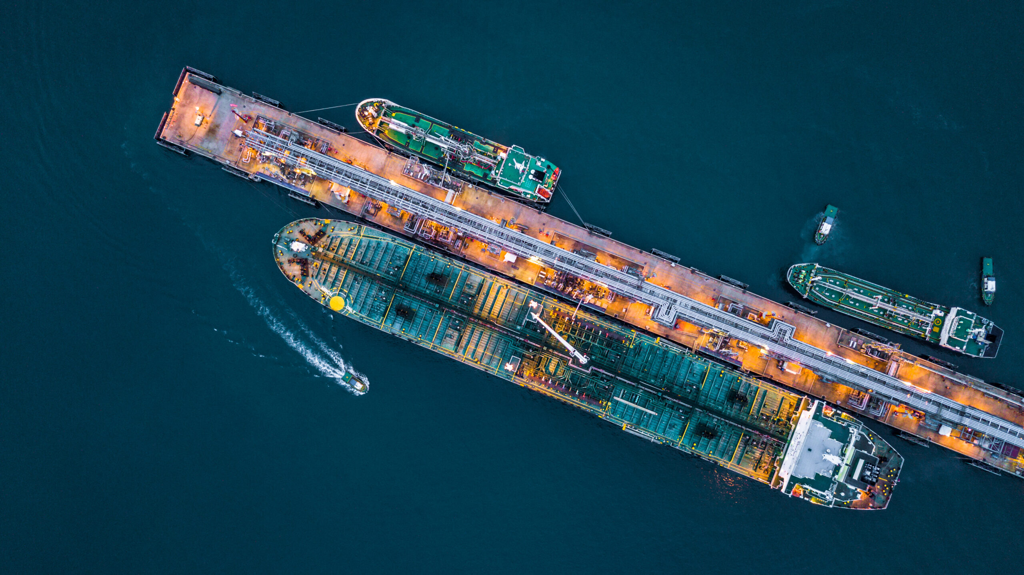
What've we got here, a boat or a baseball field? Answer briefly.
boat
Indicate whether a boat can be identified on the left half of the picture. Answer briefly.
Yes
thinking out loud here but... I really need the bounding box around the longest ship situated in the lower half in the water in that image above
[272,217,904,510]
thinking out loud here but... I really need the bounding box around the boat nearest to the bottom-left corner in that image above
[341,371,368,393]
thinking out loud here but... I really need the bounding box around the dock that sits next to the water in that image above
[153,65,1024,478]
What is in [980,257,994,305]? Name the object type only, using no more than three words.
boat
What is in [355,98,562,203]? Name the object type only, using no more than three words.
ship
